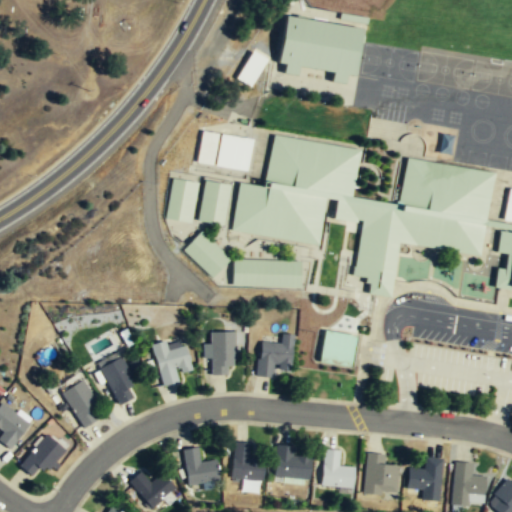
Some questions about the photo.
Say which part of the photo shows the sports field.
top right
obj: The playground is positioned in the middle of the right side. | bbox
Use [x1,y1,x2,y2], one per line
[398,257,496,302]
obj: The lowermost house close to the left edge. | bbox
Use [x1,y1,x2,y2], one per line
[20,436,66,476]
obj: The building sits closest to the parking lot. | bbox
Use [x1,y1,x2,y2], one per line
[322,330,359,368]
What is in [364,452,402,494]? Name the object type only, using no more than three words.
house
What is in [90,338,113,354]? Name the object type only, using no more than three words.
swimming pool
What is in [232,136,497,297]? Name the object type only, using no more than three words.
building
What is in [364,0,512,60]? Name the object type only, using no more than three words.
sports field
